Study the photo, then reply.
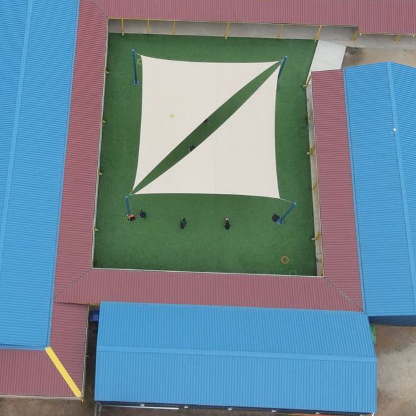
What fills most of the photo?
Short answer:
buildings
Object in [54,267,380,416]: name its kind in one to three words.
building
